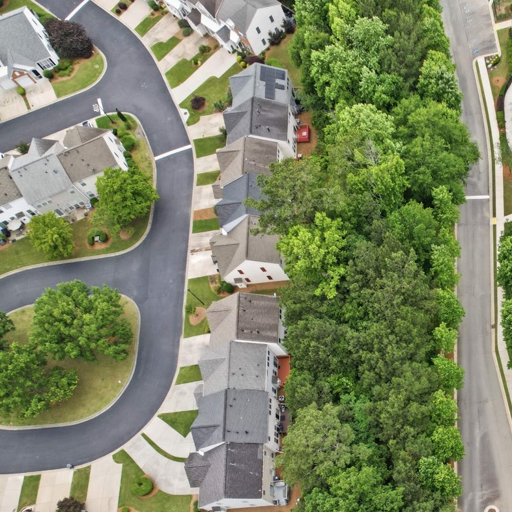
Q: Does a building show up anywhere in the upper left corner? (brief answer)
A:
Yes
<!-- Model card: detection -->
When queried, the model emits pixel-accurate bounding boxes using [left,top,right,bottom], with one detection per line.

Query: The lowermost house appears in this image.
[179,443,279,512]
